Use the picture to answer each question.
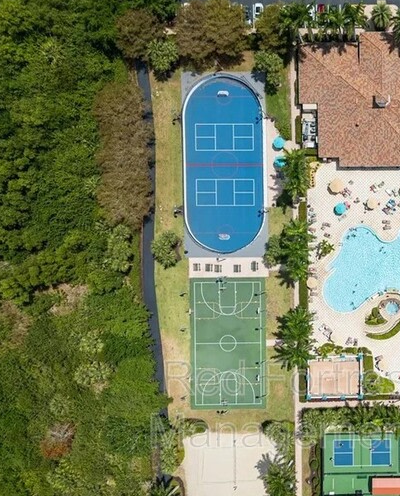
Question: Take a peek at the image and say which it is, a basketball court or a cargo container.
basketball court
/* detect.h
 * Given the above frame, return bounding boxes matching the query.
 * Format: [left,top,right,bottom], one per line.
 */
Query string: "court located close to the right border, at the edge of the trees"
[334,437,392,469]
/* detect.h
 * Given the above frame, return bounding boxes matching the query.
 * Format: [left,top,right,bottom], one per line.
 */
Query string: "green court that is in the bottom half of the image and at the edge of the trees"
[190,277,266,409]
